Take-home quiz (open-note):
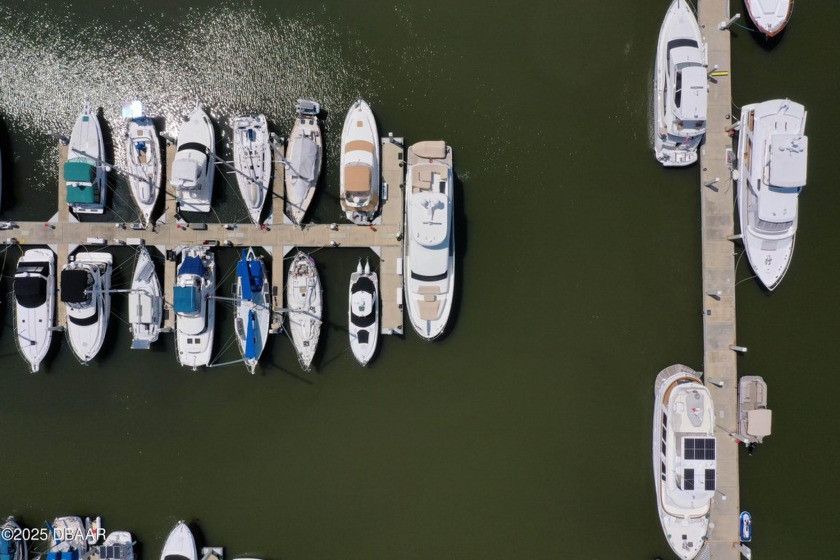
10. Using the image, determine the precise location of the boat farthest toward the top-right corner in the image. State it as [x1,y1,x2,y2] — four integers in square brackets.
[733,0,798,40]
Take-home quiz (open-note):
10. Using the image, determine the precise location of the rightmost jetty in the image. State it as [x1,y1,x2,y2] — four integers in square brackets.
[695,0,739,560]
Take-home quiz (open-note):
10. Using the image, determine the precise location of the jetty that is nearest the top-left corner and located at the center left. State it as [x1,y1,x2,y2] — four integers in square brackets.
[0,134,404,335]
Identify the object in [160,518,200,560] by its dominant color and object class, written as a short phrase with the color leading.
white boat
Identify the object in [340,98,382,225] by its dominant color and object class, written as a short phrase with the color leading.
white boat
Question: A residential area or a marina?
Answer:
marina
